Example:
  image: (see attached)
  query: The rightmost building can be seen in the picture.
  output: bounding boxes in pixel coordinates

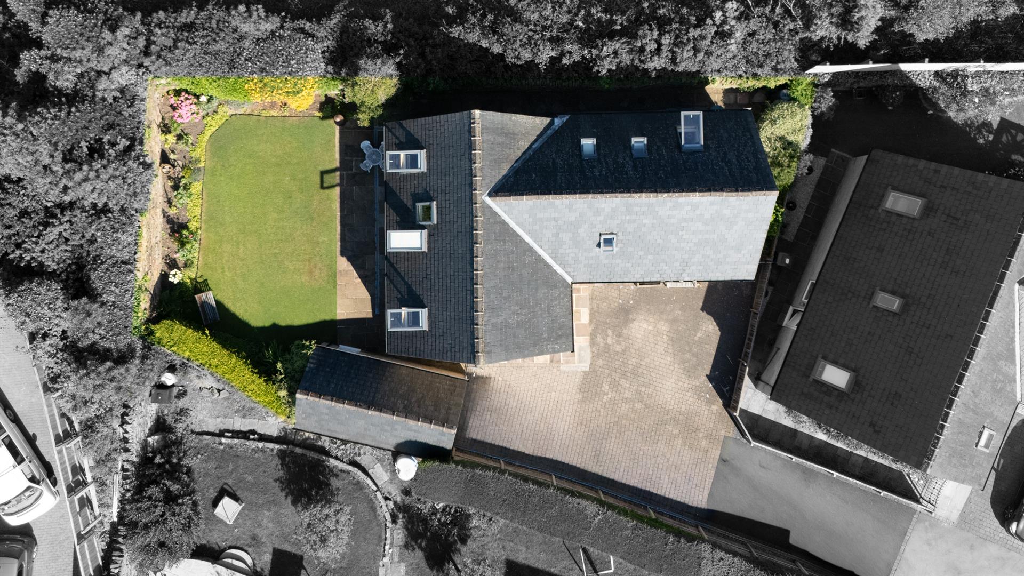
[756,150,1024,490]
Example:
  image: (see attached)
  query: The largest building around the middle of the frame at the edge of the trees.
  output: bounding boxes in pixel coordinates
[383,107,780,366]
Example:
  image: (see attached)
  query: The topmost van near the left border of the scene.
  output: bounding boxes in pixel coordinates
[0,407,58,516]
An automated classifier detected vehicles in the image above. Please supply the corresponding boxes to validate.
[0,407,58,516]
[1004,486,1024,538]
[0,537,41,576]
